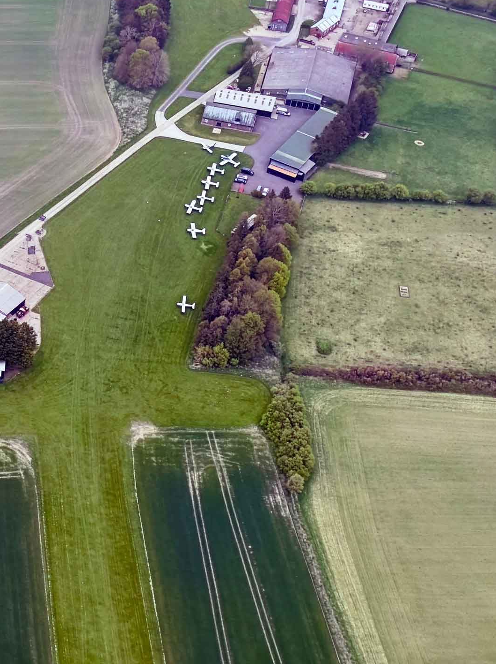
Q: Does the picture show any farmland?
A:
Yes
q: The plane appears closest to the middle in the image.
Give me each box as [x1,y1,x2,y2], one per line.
[177,296,194,313]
